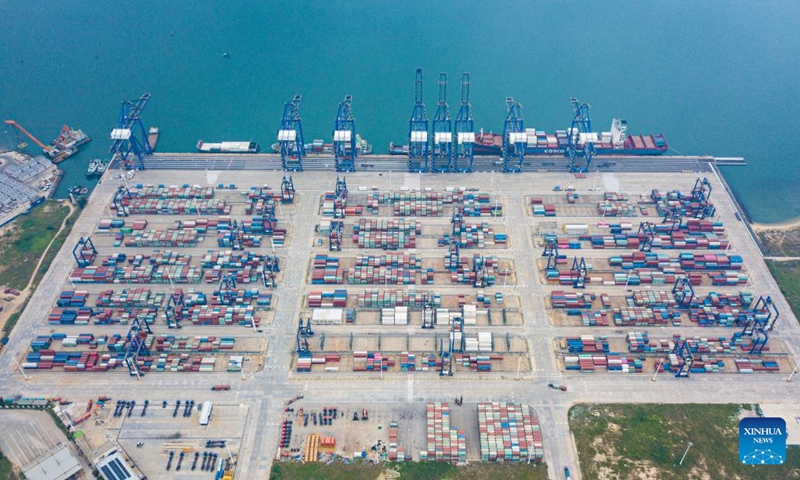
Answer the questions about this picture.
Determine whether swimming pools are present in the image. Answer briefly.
No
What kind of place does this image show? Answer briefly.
port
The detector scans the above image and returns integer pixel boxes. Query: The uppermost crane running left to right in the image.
[5,121,89,161]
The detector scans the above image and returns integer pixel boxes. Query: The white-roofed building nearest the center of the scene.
[312,303,343,324]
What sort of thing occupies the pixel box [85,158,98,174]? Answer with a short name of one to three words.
boat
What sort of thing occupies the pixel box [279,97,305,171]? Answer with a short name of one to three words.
container crane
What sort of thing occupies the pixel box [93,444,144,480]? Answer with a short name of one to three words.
building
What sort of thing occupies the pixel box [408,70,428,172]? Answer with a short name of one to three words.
container crane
